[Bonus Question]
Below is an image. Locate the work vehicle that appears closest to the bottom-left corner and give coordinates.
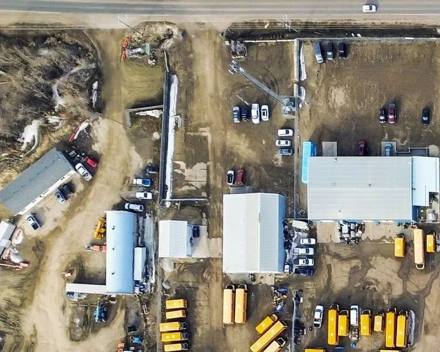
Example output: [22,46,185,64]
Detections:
[94,303,109,321]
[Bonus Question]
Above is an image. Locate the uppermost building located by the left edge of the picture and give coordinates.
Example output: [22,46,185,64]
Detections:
[0,147,80,217]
